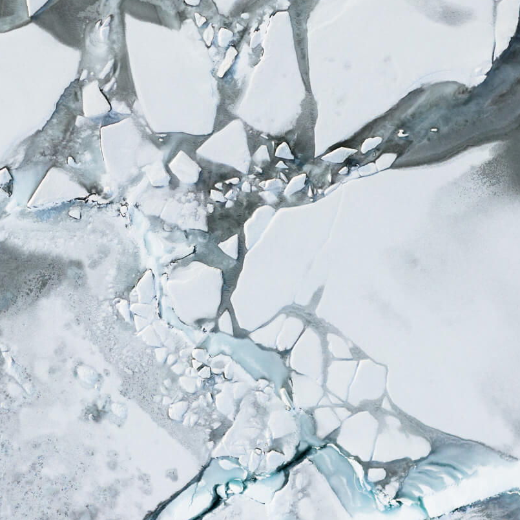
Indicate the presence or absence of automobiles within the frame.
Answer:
No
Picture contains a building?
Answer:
No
